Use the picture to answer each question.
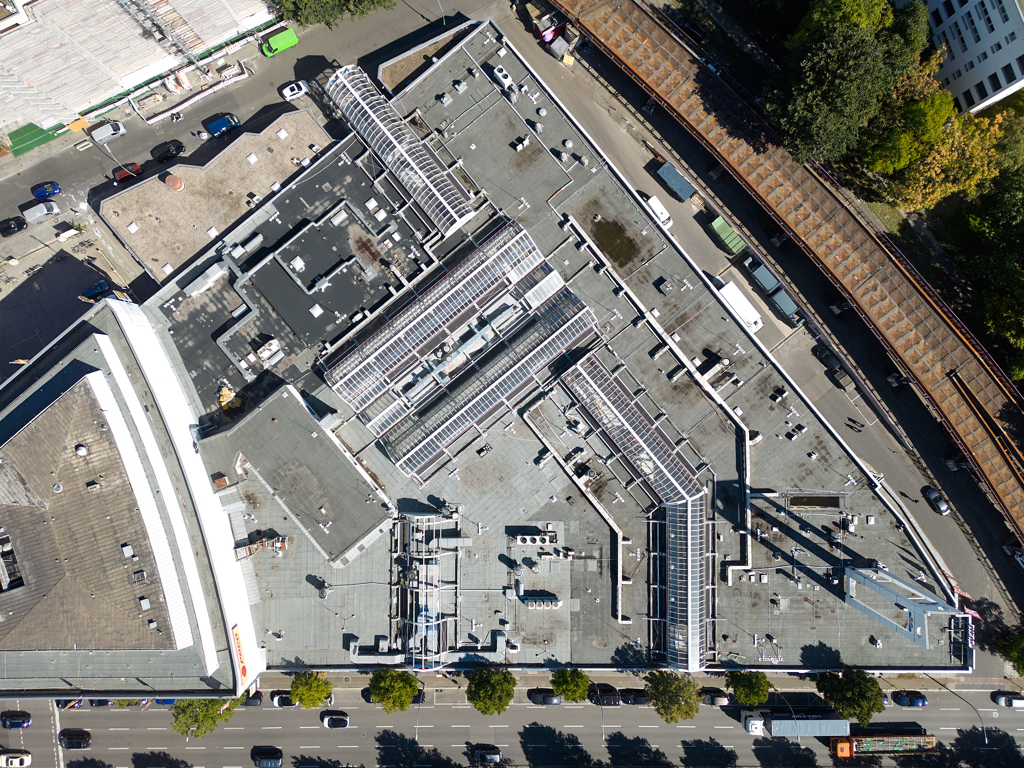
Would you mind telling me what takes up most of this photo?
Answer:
buildings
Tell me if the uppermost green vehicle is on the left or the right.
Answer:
left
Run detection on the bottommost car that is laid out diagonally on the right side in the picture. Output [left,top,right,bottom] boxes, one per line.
[925,485,951,515]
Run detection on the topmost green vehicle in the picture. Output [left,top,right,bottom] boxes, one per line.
[263,28,300,54]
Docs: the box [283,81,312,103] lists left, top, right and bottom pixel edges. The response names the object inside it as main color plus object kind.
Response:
white car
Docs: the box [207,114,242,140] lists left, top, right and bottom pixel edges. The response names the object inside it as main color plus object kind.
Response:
blue vehicle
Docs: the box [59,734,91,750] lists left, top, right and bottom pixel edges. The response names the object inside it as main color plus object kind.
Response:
black car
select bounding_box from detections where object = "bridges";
[539,0,1024,549]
